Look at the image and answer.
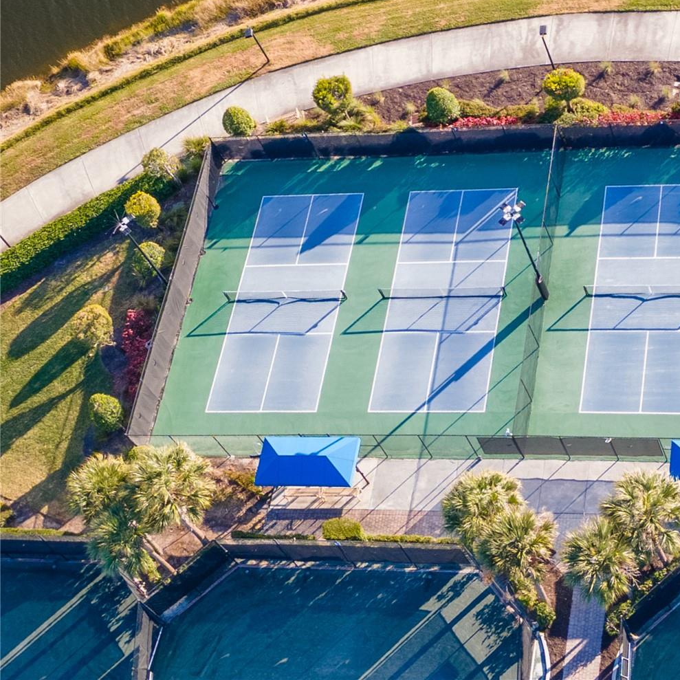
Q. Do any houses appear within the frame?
No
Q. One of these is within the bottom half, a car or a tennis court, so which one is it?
tennis court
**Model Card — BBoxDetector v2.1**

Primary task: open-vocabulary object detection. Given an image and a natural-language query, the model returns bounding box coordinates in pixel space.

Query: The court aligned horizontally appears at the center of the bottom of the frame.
[154,565,526,680]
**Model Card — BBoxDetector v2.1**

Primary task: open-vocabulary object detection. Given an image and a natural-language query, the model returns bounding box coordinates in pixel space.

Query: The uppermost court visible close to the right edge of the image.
[579,185,680,414]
